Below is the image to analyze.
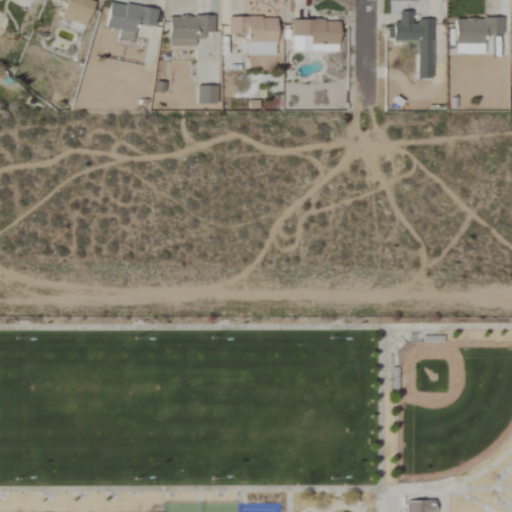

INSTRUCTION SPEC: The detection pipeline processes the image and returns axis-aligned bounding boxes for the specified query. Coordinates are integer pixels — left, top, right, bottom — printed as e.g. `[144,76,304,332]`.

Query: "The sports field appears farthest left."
[0,330,378,486]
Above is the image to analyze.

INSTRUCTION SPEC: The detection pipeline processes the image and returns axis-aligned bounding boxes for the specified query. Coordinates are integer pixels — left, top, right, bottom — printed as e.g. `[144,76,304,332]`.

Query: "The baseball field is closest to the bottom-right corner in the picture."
[399,342,512,482]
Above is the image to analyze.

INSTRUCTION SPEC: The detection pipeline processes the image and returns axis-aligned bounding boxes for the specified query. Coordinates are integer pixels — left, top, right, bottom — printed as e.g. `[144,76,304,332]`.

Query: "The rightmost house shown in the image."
[457,16,507,54]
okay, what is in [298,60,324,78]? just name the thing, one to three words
swimming pool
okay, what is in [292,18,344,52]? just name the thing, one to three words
house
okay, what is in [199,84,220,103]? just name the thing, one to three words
building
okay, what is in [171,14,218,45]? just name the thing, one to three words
house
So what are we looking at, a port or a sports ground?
sports ground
